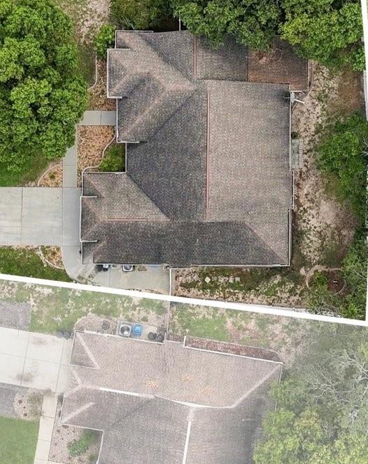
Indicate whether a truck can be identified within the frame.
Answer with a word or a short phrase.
No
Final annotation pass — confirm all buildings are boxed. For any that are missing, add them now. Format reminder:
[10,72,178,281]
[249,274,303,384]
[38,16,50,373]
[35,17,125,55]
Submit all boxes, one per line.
[79,29,310,270]
[61,330,284,464]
